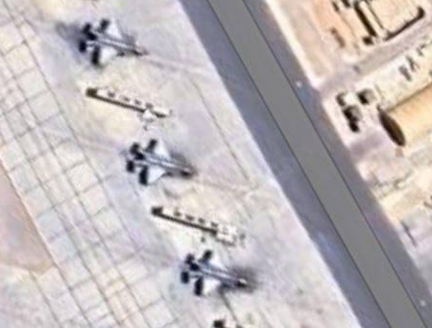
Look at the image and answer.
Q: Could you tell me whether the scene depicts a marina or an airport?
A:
airport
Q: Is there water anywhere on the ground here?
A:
No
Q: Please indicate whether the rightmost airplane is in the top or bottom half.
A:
bottom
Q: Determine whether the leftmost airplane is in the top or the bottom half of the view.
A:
top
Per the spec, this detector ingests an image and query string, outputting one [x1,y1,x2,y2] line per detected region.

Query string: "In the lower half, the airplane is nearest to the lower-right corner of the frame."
[190,253,252,295]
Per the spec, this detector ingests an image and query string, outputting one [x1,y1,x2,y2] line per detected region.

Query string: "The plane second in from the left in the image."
[136,142,197,184]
